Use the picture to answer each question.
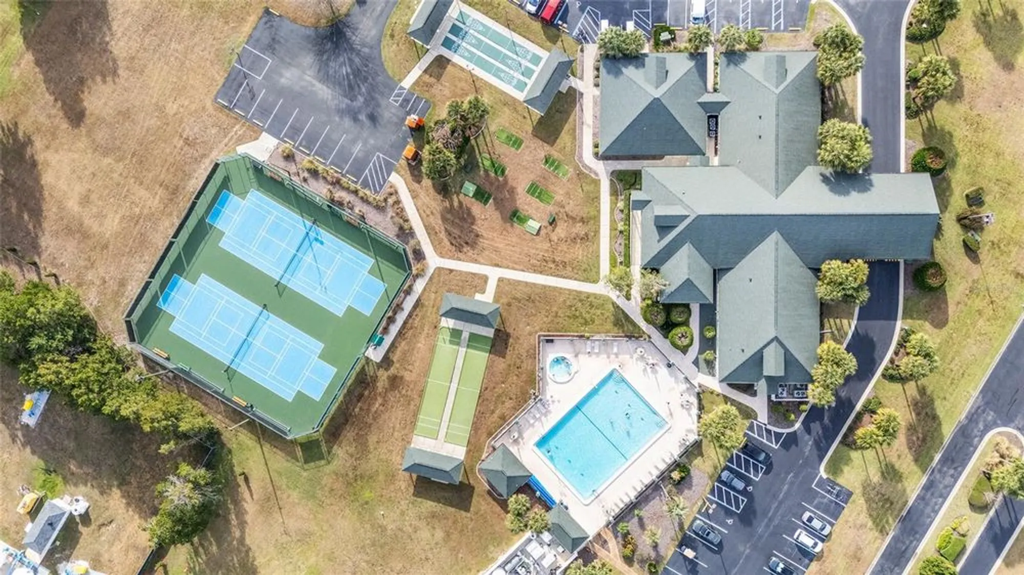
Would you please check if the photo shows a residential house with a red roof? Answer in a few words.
No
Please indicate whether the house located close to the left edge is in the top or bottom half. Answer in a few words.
bottom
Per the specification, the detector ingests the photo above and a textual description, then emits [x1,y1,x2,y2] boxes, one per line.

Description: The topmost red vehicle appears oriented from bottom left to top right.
[538,0,564,27]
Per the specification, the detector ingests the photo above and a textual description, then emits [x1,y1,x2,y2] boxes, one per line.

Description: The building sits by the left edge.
[23,497,71,556]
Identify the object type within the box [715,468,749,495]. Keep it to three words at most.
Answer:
car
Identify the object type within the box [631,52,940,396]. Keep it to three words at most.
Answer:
building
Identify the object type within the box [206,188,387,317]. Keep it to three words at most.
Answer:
sports court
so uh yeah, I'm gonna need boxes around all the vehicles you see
[538,0,564,27]
[715,468,749,495]
[763,553,804,575]
[690,519,724,546]
[525,0,543,13]
[736,439,775,468]
[798,511,833,537]
[790,528,824,554]
[402,113,428,130]
[678,543,697,561]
